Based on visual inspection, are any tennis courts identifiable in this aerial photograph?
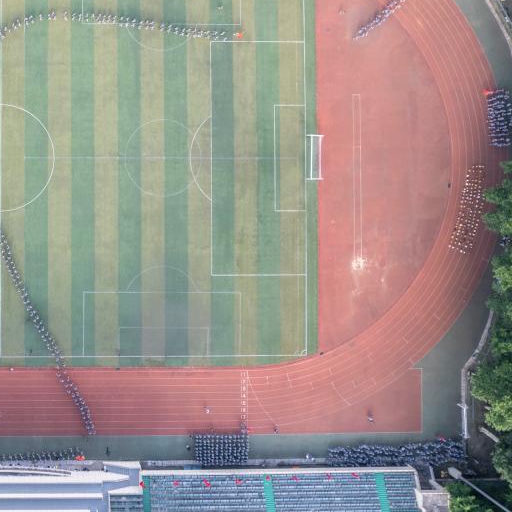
No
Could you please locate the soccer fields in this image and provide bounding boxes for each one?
[0,0,319,367]
[24,0,301,356]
